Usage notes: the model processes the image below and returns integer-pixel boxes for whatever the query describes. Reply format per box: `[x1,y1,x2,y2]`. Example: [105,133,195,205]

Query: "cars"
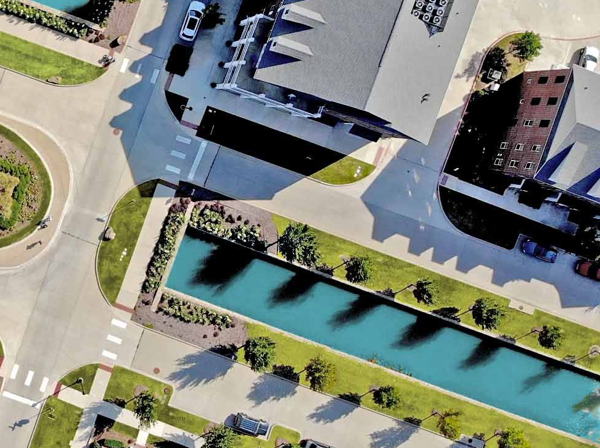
[230,410,272,438]
[572,257,600,280]
[577,39,600,71]
[178,0,205,44]
[304,436,340,448]
[517,238,561,264]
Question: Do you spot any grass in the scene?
Yes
